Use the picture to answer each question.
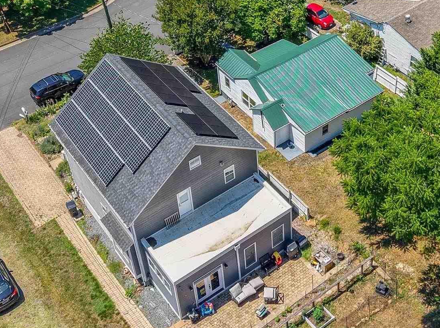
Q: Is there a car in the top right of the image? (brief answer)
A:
Yes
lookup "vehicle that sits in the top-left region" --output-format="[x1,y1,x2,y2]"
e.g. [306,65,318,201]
[26,67,90,105]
